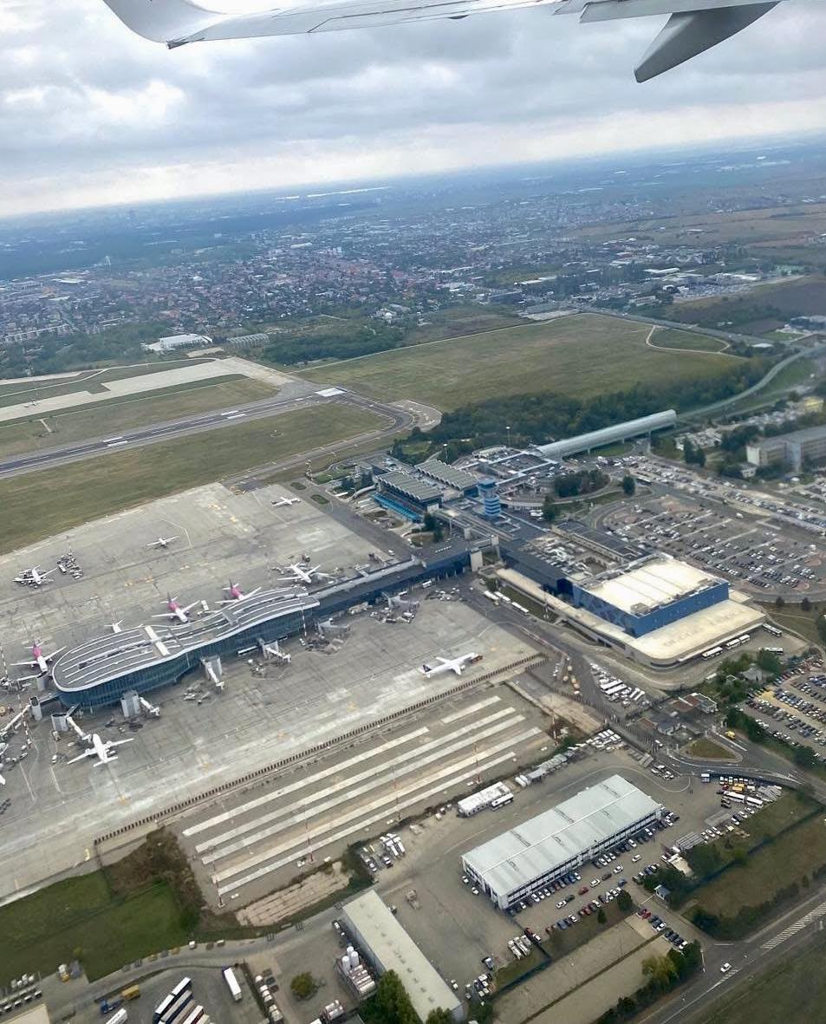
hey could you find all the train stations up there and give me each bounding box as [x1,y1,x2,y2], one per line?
[532,417,683,468]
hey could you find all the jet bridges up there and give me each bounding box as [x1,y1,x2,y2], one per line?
[206,658,226,692]
[118,693,161,721]
[16,673,57,694]
[382,594,419,610]
[263,637,292,664]
[312,618,349,639]
[51,706,93,744]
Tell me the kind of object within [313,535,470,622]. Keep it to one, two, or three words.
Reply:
building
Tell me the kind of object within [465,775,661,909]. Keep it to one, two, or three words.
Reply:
warehouse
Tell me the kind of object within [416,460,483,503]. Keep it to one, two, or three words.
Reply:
building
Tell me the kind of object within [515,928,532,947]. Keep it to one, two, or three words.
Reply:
vehicle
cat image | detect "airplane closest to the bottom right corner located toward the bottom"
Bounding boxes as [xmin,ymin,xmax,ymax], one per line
[419,647,479,680]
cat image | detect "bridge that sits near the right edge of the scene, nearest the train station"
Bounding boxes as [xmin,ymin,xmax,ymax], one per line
[678,344,826,424]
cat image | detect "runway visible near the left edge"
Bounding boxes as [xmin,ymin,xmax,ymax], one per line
[0,399,285,474]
